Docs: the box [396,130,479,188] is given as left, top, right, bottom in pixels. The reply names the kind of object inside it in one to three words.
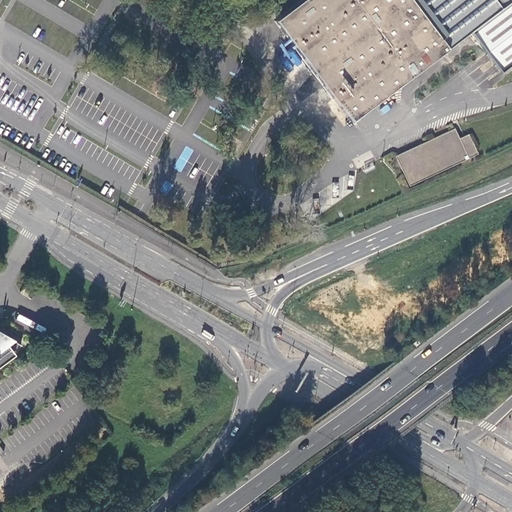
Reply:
building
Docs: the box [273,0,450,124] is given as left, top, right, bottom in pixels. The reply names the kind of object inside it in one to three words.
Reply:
building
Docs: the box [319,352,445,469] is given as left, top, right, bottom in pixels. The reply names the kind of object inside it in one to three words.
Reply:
overpass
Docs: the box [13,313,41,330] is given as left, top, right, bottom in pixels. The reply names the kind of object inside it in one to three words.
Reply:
vehicle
